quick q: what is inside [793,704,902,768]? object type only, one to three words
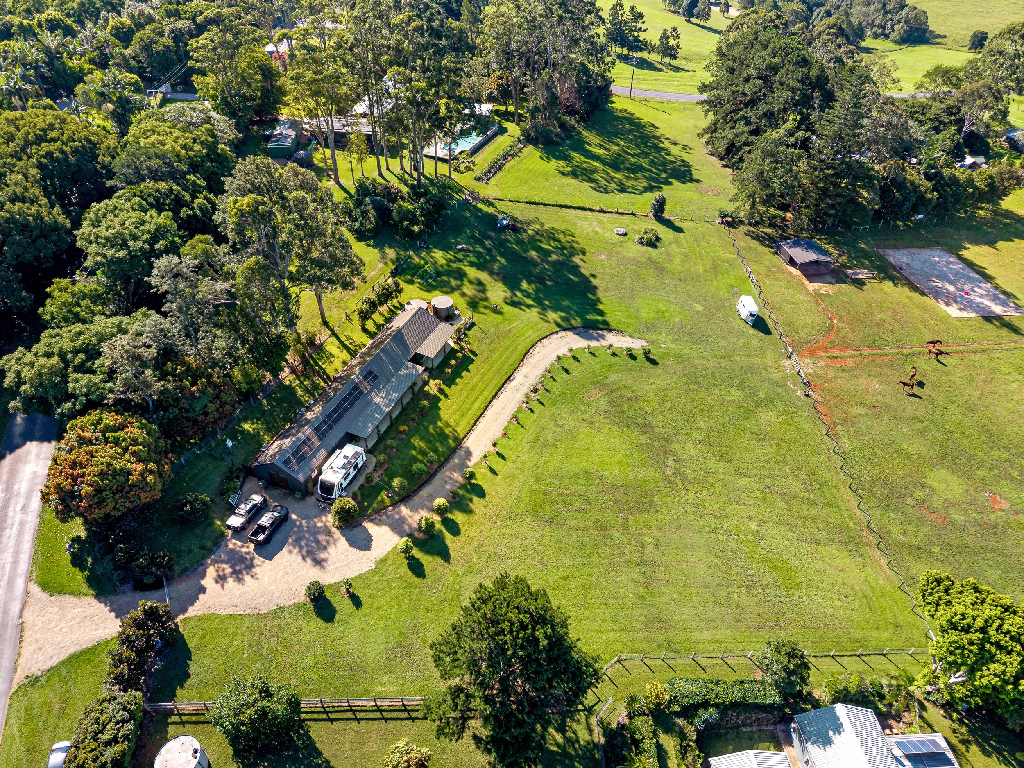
house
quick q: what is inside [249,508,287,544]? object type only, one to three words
truck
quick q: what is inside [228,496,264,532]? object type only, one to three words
truck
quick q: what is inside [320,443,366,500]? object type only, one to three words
camper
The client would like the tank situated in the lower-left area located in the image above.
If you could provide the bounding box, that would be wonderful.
[153,738,207,768]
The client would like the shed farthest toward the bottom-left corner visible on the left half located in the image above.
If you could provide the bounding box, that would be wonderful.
[253,308,460,493]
